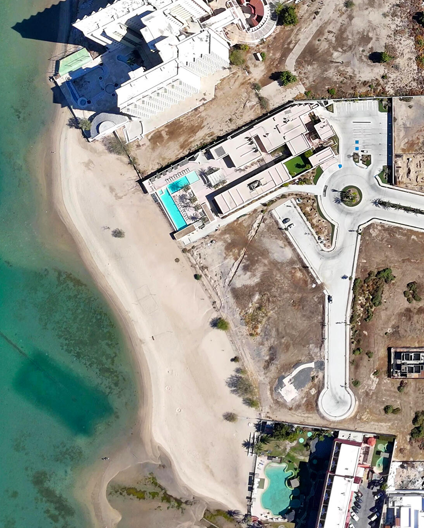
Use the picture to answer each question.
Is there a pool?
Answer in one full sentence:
Yes, looking at the shot, I can spot a pool.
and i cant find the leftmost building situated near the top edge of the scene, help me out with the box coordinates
[73,0,236,117]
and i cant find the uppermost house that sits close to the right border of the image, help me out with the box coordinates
[391,347,424,378]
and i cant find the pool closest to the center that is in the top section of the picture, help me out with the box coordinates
[155,170,201,232]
